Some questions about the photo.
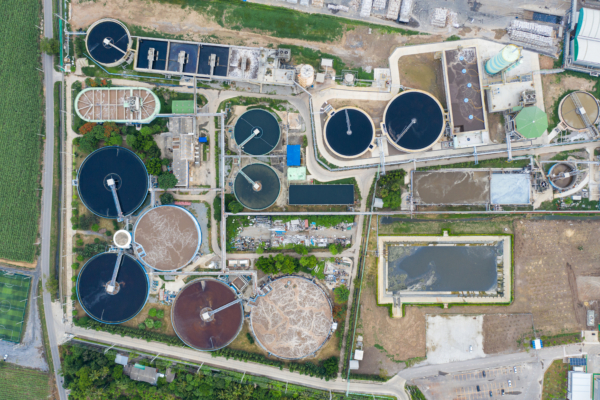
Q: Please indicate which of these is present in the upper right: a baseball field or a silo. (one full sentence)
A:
The one visible in the upper right is a silo.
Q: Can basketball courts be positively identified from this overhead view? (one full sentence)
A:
No, there isn't any basketball court down there.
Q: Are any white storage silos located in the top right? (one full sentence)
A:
Yes, a white storage silo appears in the top right.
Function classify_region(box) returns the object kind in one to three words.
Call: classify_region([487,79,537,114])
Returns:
building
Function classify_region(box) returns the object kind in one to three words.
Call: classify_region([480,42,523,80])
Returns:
silo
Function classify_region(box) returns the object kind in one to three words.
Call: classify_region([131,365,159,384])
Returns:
house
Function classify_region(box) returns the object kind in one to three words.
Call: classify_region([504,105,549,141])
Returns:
storage tank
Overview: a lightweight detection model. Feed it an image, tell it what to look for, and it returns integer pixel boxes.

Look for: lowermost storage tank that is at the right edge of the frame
[544,162,589,191]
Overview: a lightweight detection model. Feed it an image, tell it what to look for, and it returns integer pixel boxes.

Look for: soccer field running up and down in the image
[0,269,35,348]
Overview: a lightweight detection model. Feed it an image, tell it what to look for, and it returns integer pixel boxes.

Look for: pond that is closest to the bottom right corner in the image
[369,229,512,318]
